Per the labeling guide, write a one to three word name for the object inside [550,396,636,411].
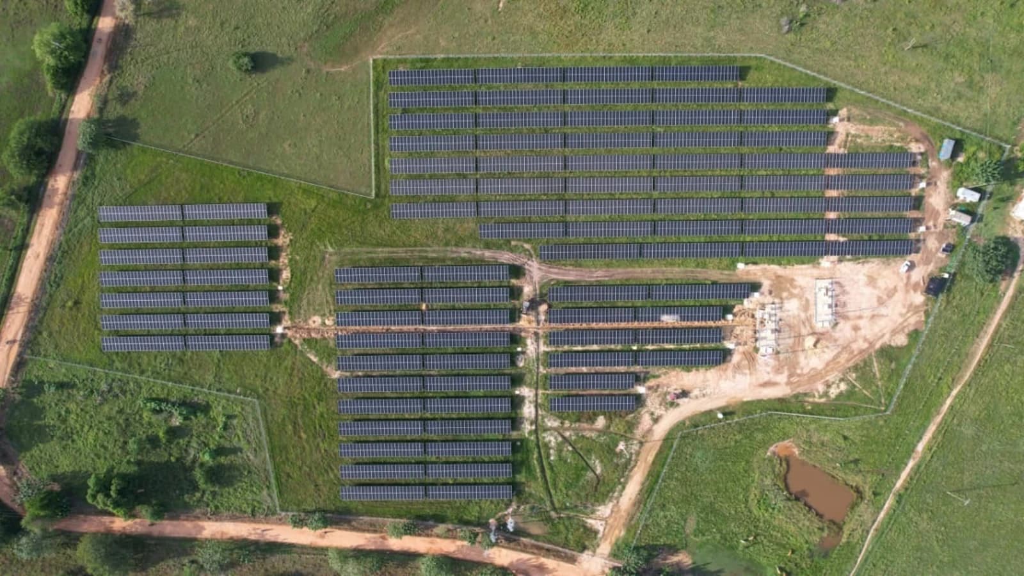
solar array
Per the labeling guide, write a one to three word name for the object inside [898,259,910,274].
vehicle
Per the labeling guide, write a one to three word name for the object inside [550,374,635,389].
solar array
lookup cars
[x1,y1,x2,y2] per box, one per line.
[941,242,952,255]
[898,259,910,274]
[941,272,949,286]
